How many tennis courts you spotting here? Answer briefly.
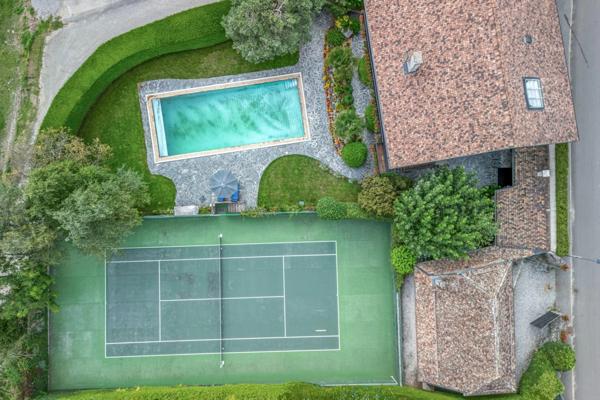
1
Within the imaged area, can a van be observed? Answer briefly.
No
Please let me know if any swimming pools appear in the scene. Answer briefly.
Yes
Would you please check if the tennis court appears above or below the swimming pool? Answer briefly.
below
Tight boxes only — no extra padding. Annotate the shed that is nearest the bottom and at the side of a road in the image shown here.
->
[411,249,548,396]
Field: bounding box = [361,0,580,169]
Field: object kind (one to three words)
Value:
house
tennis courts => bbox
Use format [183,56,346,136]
[47,217,399,391]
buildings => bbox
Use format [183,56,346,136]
[411,249,548,396]
[361,0,580,169]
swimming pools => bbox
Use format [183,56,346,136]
[145,71,310,163]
